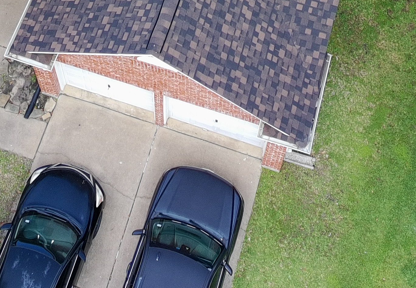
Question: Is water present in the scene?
No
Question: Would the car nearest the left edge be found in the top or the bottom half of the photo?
bottom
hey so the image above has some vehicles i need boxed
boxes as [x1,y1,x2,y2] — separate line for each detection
[0,159,107,288]
[125,155,242,288]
